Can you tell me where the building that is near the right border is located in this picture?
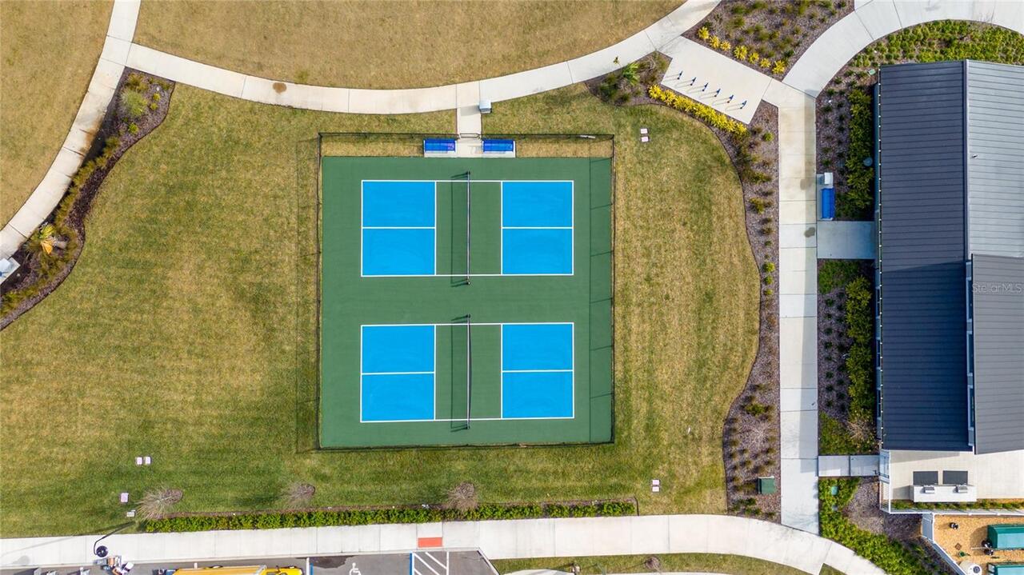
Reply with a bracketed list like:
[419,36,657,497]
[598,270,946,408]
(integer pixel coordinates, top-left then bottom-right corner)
[872,62,1024,460]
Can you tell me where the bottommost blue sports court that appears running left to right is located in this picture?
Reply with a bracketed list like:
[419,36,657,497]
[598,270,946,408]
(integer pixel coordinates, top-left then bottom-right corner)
[361,323,575,422]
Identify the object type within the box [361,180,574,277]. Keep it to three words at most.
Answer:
sports court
